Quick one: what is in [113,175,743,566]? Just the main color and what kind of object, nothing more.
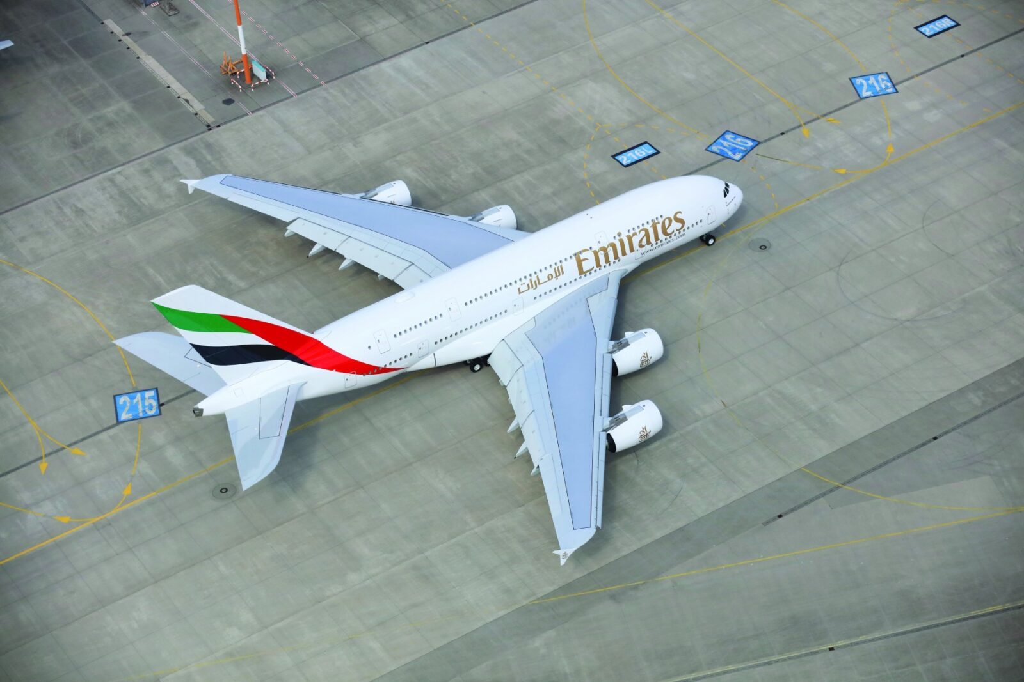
white airplane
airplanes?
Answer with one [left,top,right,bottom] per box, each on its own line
[0,39,14,48]
[113,175,743,566]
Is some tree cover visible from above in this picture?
No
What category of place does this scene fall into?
airport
